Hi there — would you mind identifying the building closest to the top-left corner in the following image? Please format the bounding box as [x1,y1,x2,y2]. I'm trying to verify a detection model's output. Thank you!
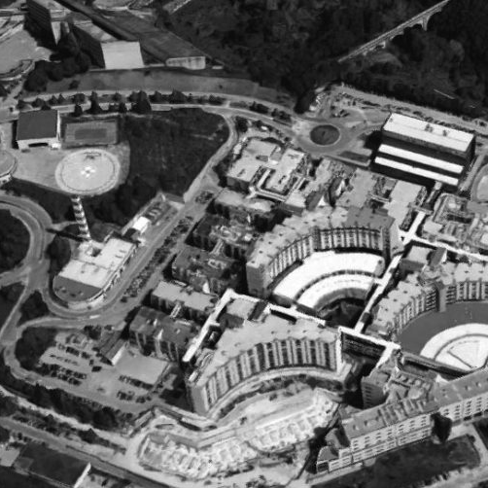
[19,0,57,44]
